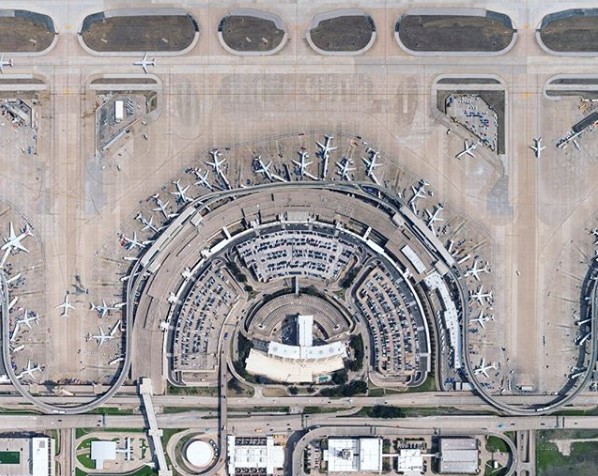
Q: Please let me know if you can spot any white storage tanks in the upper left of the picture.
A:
No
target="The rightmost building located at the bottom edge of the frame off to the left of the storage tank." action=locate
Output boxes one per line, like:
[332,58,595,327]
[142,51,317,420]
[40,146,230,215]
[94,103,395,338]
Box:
[91,442,121,470]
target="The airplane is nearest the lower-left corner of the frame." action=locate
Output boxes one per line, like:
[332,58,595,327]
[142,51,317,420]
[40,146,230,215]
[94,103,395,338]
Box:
[19,360,42,380]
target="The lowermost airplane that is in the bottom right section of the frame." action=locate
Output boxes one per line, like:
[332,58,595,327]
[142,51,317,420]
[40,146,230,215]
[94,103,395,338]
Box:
[478,357,498,378]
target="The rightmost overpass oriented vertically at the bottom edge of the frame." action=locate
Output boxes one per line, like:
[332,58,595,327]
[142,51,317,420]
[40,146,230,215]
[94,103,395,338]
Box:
[180,345,228,476]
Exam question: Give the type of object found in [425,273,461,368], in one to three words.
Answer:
building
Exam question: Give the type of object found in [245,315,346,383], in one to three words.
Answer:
building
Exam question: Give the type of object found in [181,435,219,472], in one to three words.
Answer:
storage tank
